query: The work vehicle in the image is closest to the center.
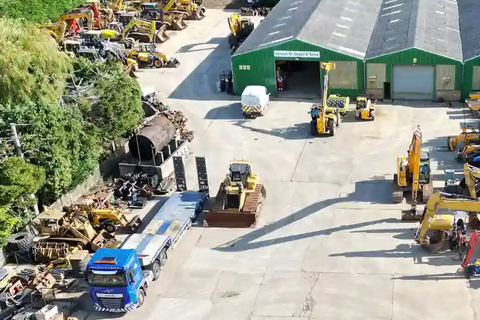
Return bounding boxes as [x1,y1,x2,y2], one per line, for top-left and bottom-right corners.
[203,149,261,217]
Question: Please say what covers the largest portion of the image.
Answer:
paved ground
